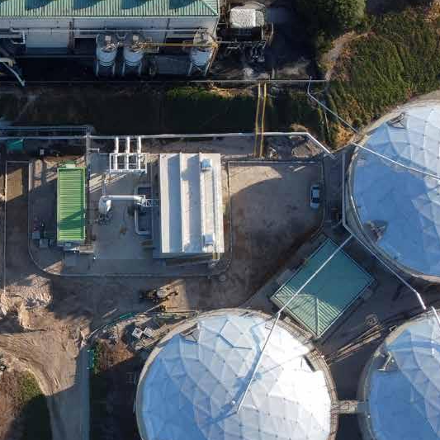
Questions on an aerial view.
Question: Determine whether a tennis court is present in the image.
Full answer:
No, the picture doesn't show any tennis court.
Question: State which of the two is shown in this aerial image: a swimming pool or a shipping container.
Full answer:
The image shows a shipping container.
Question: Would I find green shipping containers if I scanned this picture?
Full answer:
Yes, I can see a green shipping container in this picture.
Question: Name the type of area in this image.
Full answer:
This image shows an industrial area.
